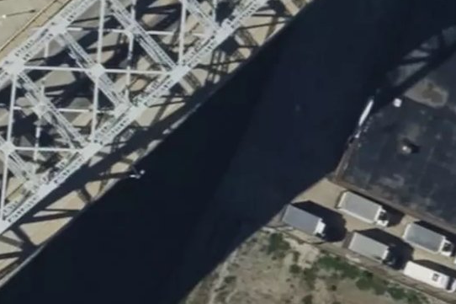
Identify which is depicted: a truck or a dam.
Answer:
truck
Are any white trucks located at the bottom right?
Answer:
Yes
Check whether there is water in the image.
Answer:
Yes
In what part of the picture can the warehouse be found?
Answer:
right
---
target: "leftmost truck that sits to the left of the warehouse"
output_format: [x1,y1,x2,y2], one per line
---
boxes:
[279,204,330,239]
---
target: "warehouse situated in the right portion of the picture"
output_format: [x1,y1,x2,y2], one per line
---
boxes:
[336,18,456,232]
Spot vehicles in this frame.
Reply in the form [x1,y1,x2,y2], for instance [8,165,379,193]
[400,224,454,257]
[336,191,390,228]
[279,204,330,239]
[400,261,456,293]
[346,233,398,266]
